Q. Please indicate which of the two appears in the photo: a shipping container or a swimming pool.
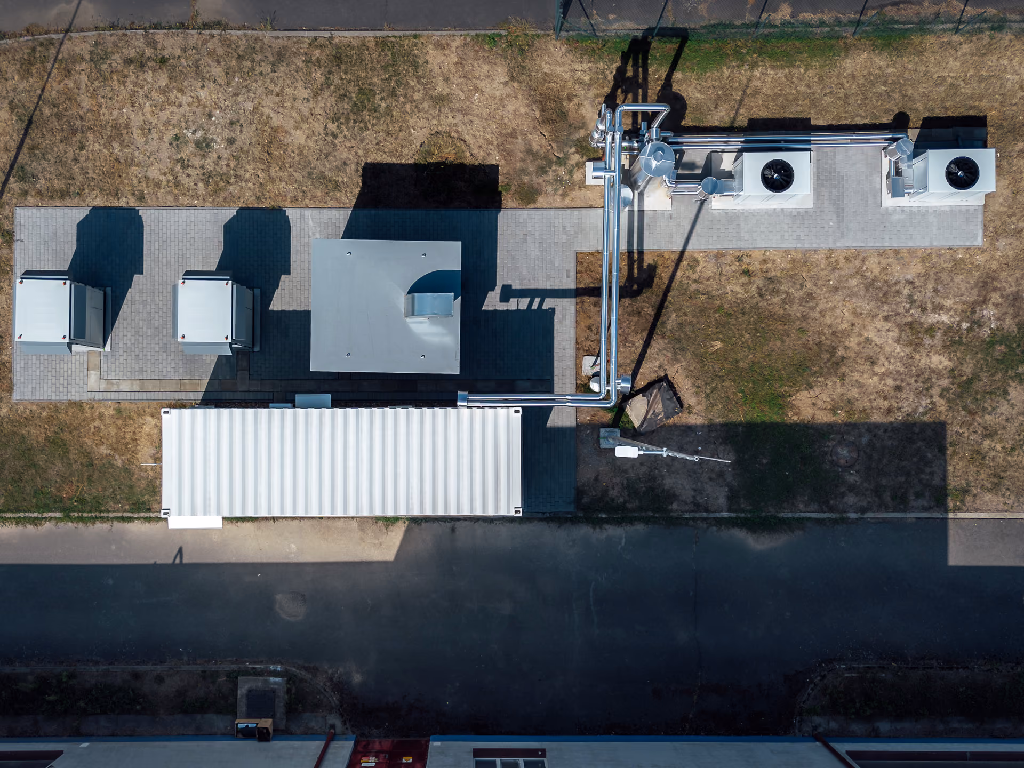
shipping container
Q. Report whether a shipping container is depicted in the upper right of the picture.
No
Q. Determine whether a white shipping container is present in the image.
Yes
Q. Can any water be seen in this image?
No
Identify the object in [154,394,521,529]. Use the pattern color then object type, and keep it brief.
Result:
white shipping container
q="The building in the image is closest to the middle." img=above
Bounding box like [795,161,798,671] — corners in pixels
[310,239,461,373]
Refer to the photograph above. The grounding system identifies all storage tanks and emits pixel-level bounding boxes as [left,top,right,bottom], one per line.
[632,141,676,189]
